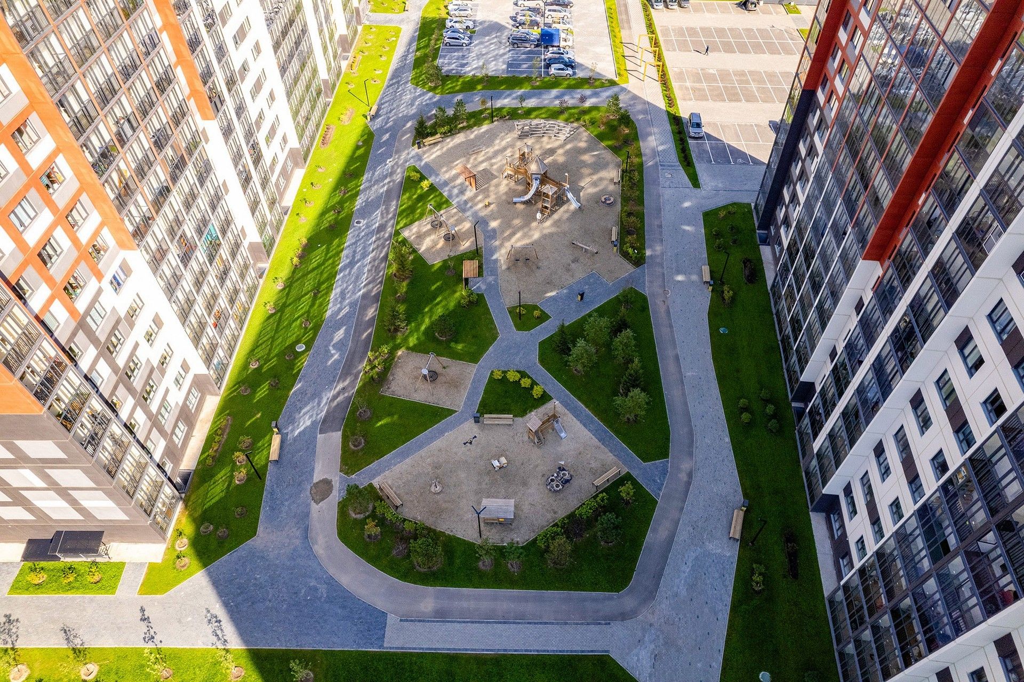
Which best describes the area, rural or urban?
urban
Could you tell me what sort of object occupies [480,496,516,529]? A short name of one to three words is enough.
shed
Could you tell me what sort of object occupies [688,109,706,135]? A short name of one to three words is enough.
car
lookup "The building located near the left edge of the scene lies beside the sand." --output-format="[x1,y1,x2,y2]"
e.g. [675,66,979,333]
[0,0,371,544]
